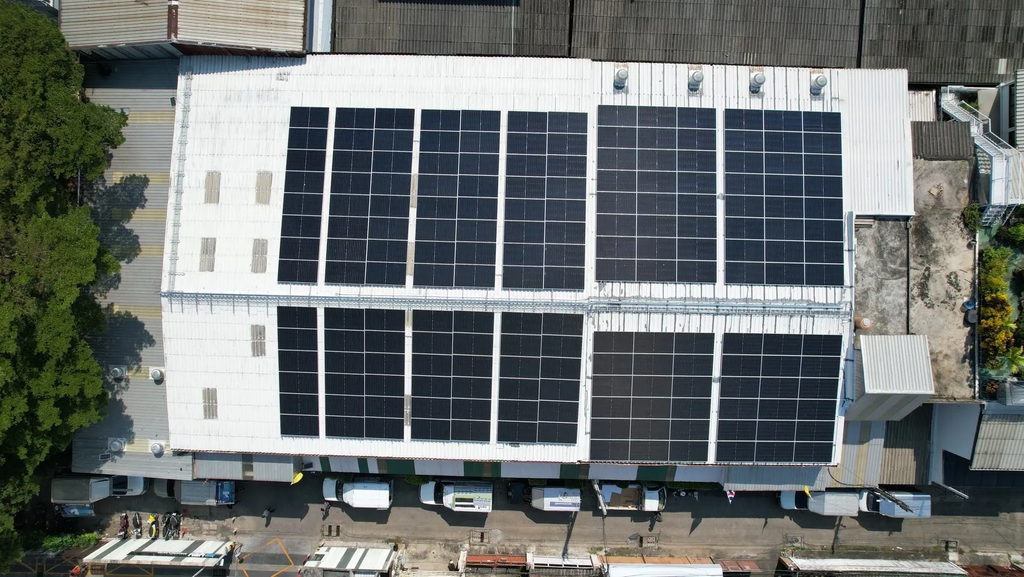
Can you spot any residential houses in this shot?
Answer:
Yes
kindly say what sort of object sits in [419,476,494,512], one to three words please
truck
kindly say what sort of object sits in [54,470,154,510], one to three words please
truck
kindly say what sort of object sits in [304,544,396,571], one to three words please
house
